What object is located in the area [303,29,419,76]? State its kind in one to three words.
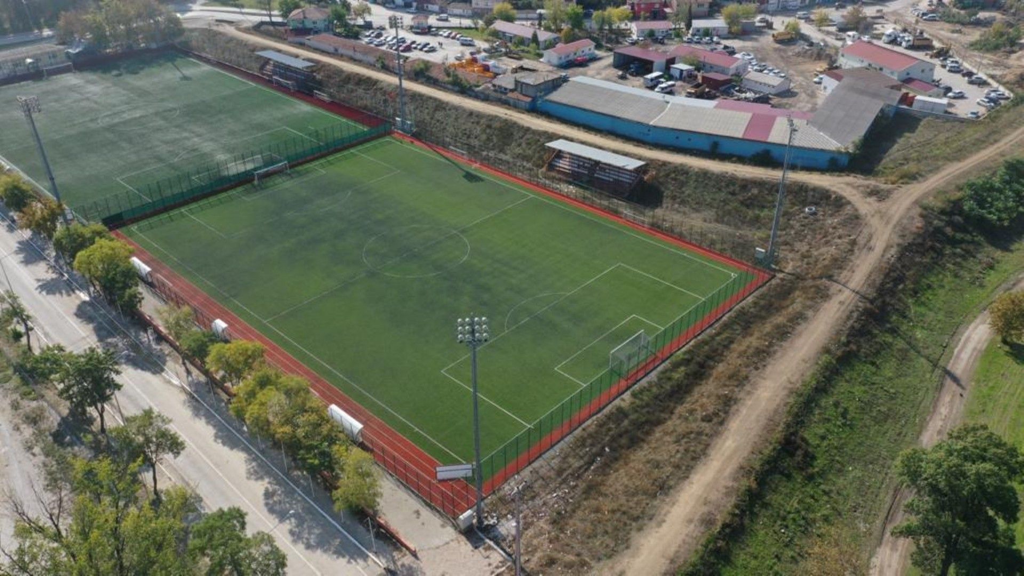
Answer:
shed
